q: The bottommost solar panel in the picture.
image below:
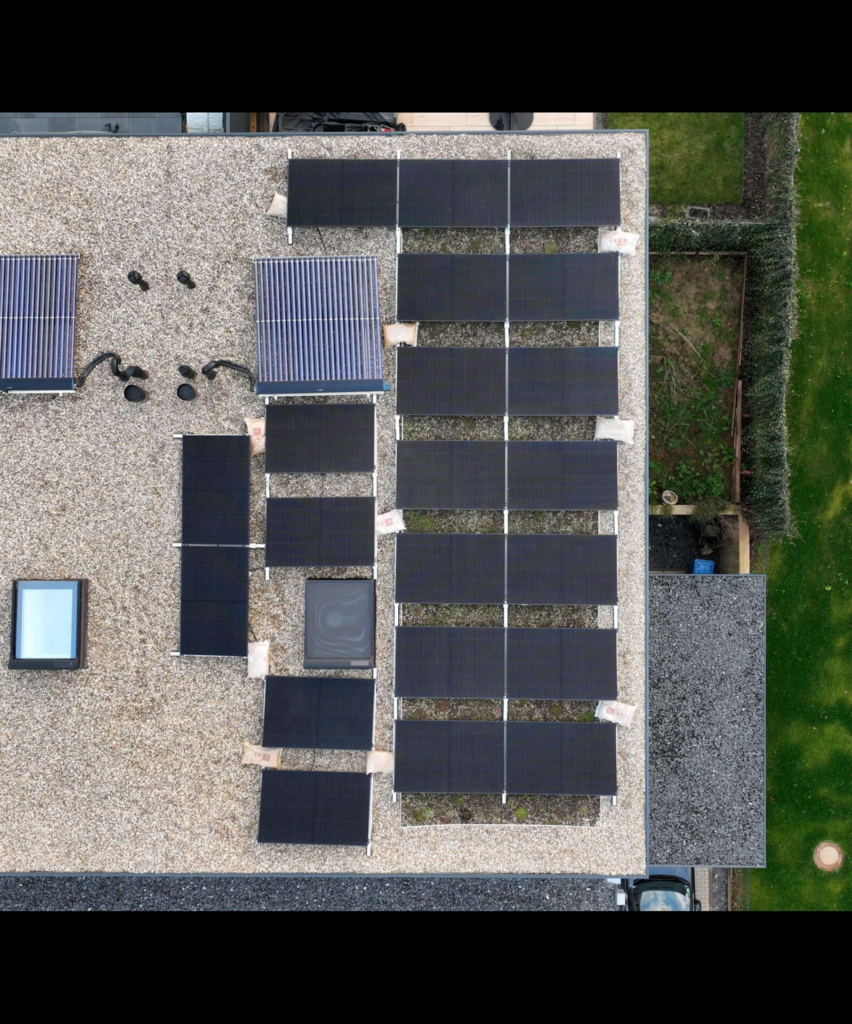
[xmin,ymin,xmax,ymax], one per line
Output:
[258,769,371,845]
